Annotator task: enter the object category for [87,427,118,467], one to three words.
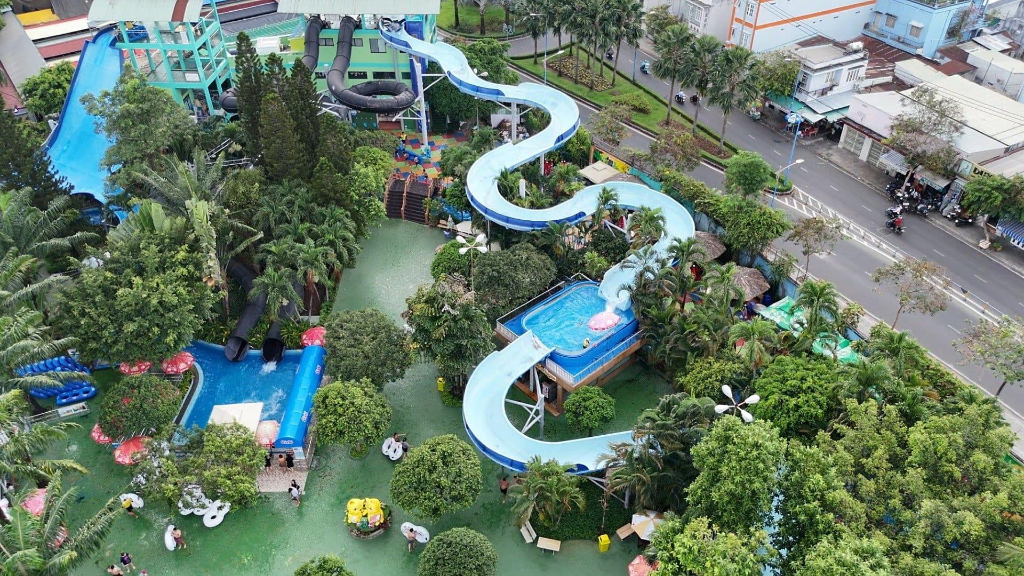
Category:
umbrella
